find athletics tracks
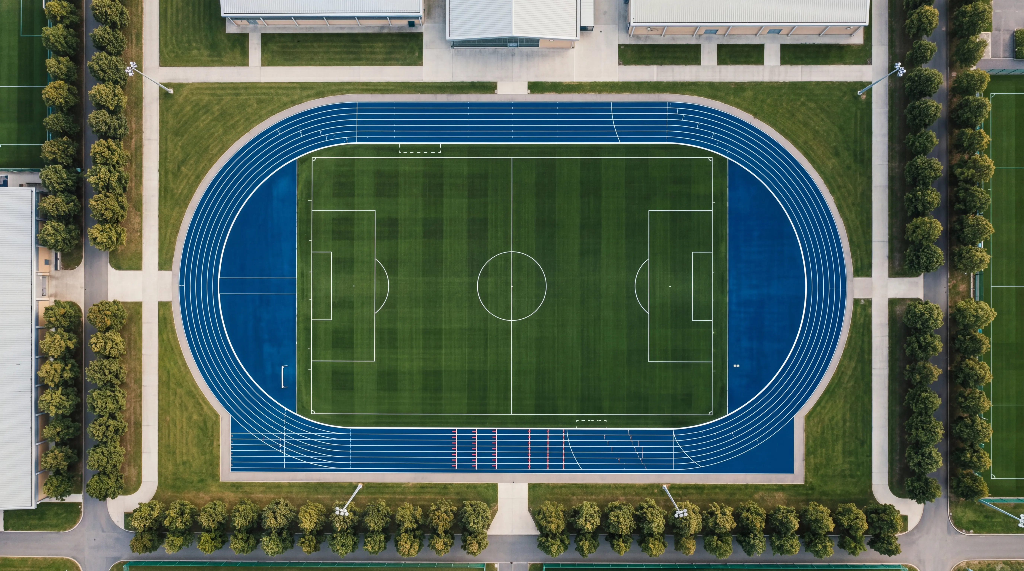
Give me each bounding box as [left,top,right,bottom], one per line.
[178,101,847,474]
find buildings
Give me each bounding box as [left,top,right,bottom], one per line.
[220,0,423,26]
[628,0,870,37]
[0,187,51,510]
[446,0,579,50]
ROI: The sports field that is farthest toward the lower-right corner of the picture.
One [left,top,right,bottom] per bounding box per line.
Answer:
[984,74,1024,498]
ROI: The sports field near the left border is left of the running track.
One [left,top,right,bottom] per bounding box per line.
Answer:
[0,0,56,168]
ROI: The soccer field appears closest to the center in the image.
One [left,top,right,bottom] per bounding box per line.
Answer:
[296,144,728,428]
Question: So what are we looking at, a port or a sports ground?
sports ground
